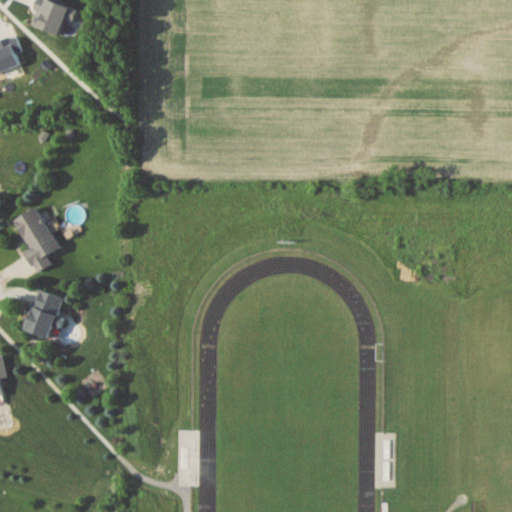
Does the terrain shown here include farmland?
Yes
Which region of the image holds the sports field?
bottom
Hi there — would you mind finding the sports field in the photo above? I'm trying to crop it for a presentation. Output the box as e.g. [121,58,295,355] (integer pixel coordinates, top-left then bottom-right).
[216,274,360,512]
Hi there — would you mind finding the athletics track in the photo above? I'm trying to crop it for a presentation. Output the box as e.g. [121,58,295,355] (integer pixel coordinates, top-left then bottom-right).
[200,258,376,512]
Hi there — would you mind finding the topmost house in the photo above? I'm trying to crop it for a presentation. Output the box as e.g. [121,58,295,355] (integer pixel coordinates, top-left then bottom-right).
[31,0,66,35]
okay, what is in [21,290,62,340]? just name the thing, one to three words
house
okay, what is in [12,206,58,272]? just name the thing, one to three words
house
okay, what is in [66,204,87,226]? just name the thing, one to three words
swimming pool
